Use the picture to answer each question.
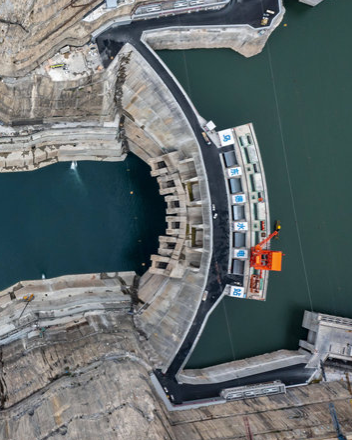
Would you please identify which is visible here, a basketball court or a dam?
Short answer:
dam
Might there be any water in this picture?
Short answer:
Yes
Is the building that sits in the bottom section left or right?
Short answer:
right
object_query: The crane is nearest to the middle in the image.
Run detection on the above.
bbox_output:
[251,224,286,276]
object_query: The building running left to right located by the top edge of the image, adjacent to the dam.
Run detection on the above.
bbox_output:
[130,0,232,23]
